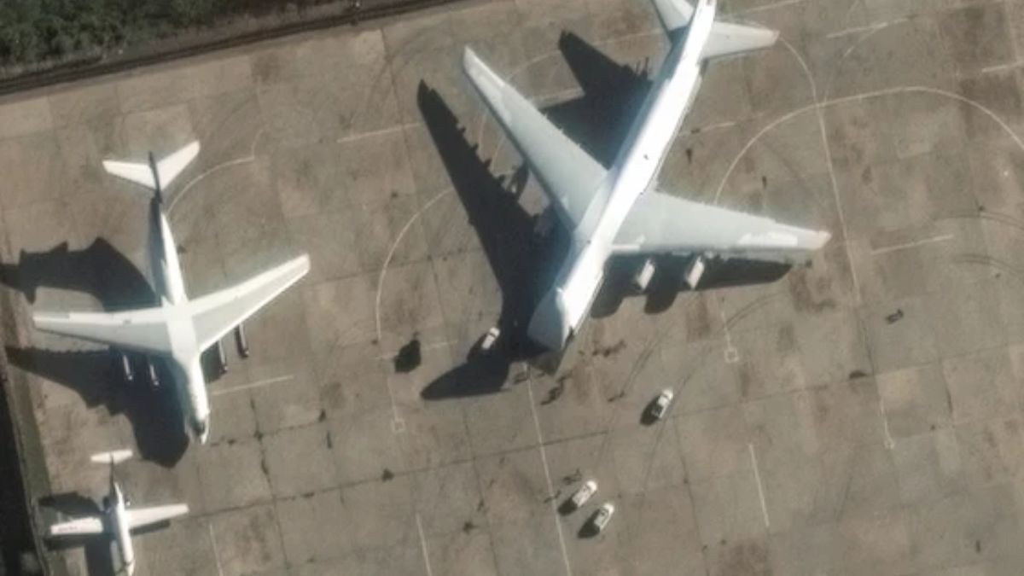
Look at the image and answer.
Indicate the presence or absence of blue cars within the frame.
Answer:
No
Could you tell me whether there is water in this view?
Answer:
No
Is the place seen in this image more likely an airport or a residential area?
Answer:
airport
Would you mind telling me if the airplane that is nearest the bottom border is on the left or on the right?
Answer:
left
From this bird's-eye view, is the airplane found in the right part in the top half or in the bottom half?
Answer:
top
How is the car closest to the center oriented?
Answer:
at an angle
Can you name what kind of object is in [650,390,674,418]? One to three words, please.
truck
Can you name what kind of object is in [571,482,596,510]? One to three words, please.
car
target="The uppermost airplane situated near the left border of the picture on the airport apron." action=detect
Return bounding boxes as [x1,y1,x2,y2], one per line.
[32,141,310,444]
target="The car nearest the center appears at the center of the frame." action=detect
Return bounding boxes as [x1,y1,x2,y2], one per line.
[479,327,499,350]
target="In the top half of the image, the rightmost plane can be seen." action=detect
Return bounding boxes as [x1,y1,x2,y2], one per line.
[465,0,830,374]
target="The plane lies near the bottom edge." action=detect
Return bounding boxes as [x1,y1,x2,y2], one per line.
[47,453,186,576]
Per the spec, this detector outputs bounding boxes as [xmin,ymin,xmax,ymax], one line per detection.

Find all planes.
[465,0,830,374]
[47,453,186,576]
[32,141,310,444]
